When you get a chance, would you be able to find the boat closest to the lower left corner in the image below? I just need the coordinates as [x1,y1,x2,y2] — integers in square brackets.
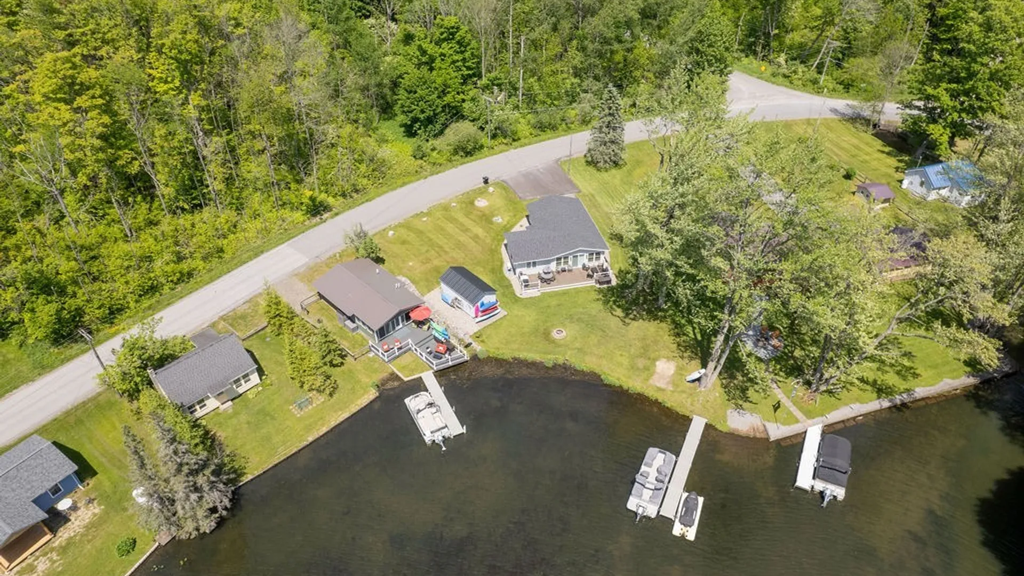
[408,391,451,454]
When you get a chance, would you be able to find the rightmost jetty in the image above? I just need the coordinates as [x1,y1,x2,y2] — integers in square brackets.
[794,422,822,492]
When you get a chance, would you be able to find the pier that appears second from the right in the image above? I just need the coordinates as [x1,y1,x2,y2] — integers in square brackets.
[659,415,707,521]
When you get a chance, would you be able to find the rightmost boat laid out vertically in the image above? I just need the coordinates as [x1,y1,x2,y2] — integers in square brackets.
[814,433,852,511]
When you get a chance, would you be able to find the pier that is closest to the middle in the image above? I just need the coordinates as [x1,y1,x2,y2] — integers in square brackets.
[421,370,466,438]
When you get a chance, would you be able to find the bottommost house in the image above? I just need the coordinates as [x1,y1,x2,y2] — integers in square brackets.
[0,433,90,576]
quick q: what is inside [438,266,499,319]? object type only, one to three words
shed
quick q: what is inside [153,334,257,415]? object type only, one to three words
house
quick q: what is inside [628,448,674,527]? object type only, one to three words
boat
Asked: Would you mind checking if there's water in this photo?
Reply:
Yes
